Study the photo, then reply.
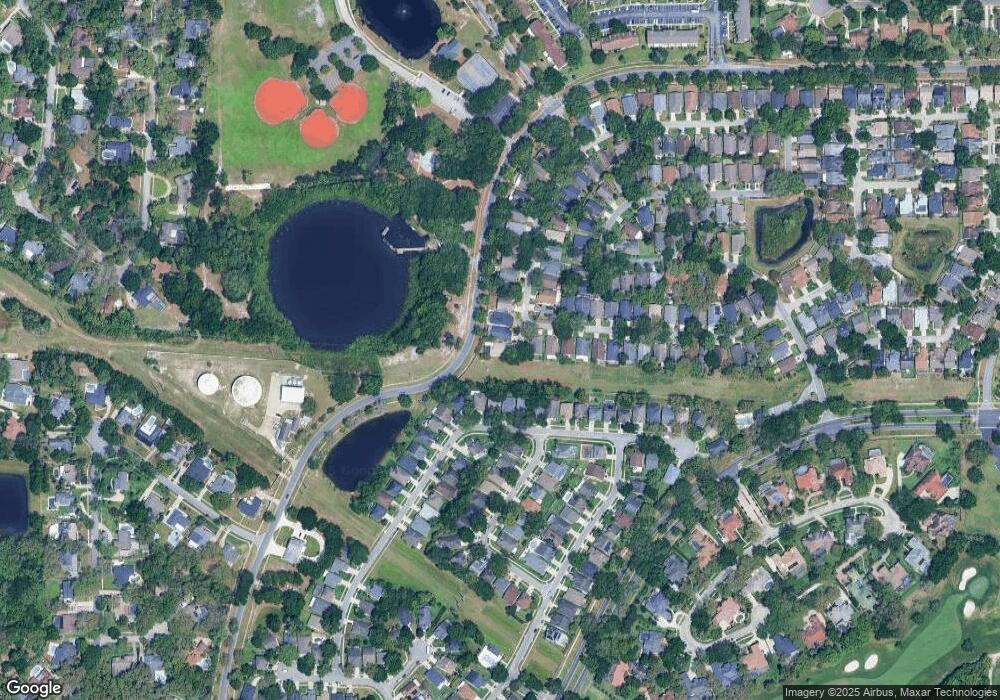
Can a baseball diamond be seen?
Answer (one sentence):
Yes, this view includes a baseball diamond.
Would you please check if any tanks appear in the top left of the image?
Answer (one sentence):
No, looking in the top left of the image, there is no tank.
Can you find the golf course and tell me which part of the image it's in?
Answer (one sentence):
The golf course is in the bottom right part of the image.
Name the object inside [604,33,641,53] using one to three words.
building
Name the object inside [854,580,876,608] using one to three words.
house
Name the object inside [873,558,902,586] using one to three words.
house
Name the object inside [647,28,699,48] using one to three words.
building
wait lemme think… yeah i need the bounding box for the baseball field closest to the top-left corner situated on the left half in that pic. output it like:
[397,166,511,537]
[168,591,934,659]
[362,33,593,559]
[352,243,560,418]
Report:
[253,76,311,126]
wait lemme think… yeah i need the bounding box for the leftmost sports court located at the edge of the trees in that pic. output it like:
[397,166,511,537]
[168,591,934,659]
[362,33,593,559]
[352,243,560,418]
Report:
[458,54,498,93]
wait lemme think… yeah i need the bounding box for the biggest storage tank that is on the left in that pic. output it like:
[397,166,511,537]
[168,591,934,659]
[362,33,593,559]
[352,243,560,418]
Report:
[231,376,262,406]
